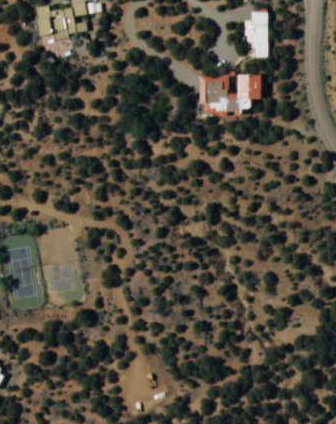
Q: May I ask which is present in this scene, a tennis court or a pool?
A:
tennis court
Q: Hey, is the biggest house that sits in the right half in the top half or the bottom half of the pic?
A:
top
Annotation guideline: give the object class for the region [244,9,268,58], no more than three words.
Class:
house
